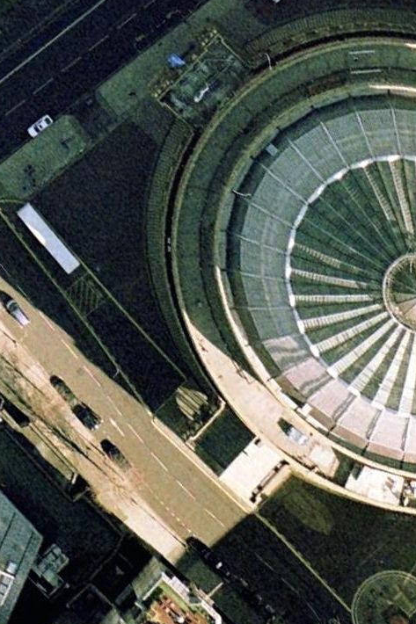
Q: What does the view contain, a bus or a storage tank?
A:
bus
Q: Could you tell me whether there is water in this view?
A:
No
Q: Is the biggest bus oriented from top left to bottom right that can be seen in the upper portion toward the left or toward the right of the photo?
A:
left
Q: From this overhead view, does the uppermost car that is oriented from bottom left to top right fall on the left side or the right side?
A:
left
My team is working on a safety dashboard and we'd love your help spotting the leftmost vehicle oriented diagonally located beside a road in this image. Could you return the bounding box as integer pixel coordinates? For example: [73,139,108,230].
[5,297,30,326]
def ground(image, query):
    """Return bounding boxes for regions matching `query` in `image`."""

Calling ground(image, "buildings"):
[0,488,42,624]
[152,18,416,517]
[121,549,231,624]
